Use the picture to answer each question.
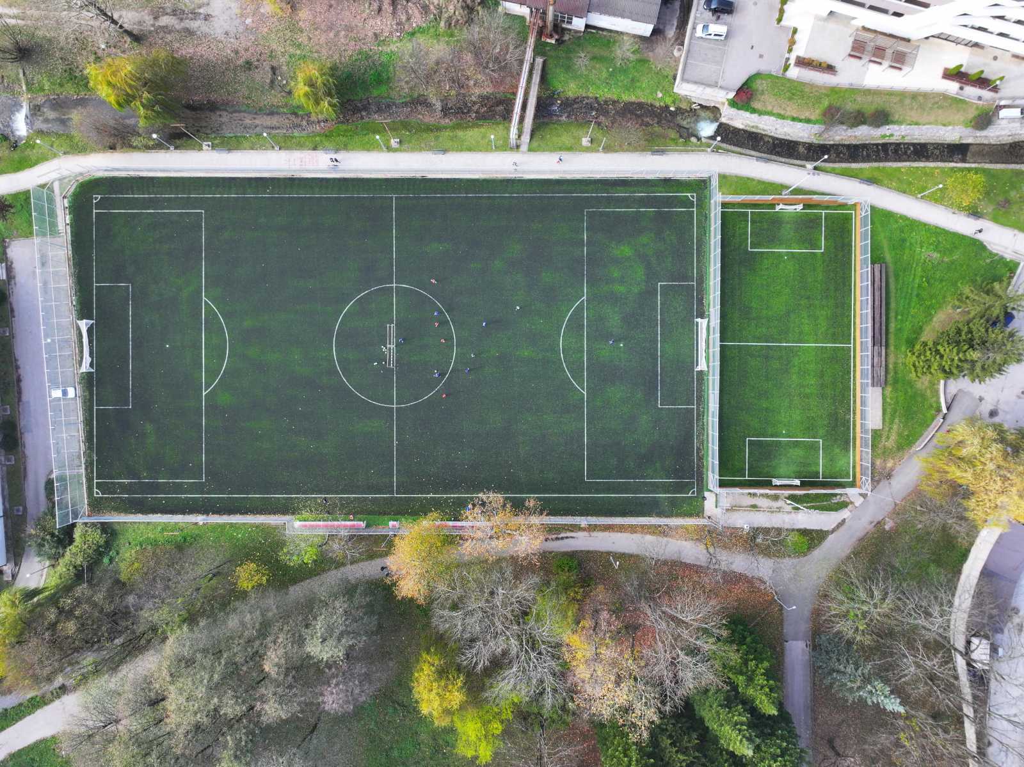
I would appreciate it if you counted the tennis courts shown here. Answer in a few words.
0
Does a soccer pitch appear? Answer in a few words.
Yes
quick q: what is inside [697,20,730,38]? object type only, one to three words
car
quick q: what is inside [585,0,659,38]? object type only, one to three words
shed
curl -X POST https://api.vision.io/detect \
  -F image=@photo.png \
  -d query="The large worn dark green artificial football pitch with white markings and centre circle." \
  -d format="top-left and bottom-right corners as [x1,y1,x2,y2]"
[69,178,710,527]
